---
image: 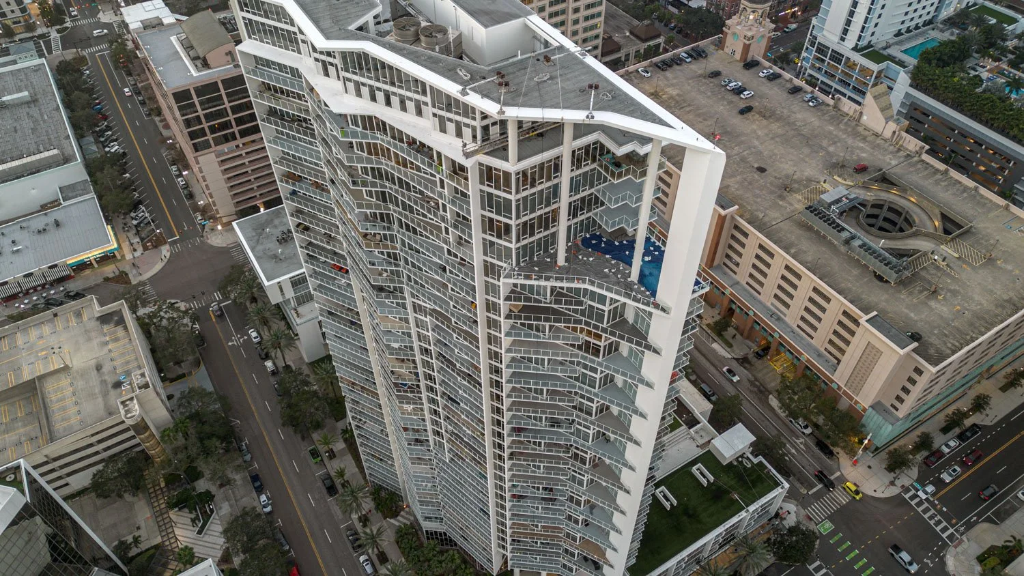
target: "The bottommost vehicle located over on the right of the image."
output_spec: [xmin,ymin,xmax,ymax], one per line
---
[891,542,917,574]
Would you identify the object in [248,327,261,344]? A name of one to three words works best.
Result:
vehicle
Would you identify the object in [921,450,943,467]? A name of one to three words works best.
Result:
car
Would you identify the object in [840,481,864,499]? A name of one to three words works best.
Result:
car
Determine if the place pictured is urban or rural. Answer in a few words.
urban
